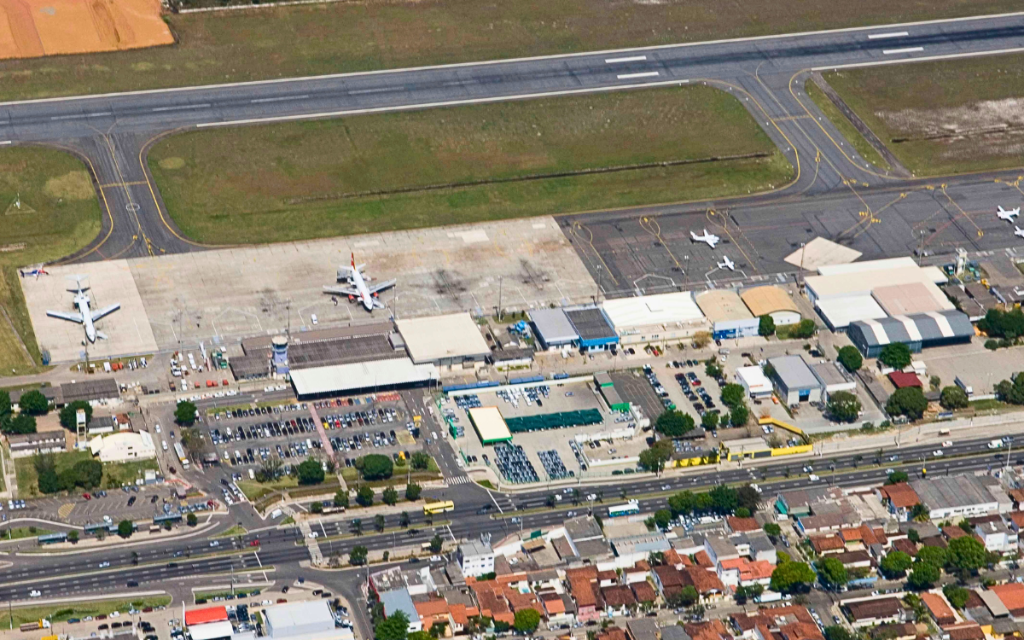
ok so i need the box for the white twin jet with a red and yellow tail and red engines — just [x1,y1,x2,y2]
[323,254,397,311]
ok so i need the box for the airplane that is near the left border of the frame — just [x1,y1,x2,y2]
[48,277,122,344]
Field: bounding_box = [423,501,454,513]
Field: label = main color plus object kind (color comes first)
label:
yellow vehicle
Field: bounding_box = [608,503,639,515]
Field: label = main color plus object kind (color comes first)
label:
white vehicle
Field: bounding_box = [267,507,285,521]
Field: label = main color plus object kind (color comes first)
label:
white vehicle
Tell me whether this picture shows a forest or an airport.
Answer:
airport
